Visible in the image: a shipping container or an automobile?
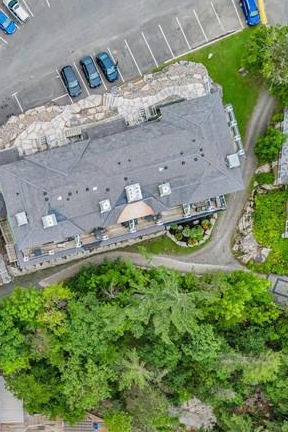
automobile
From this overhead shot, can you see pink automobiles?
No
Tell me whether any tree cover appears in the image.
Yes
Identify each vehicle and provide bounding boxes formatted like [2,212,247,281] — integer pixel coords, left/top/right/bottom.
[0,6,18,33]
[61,62,84,96]
[242,0,261,22]
[97,49,120,82]
[5,0,30,21]
[81,54,103,87]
